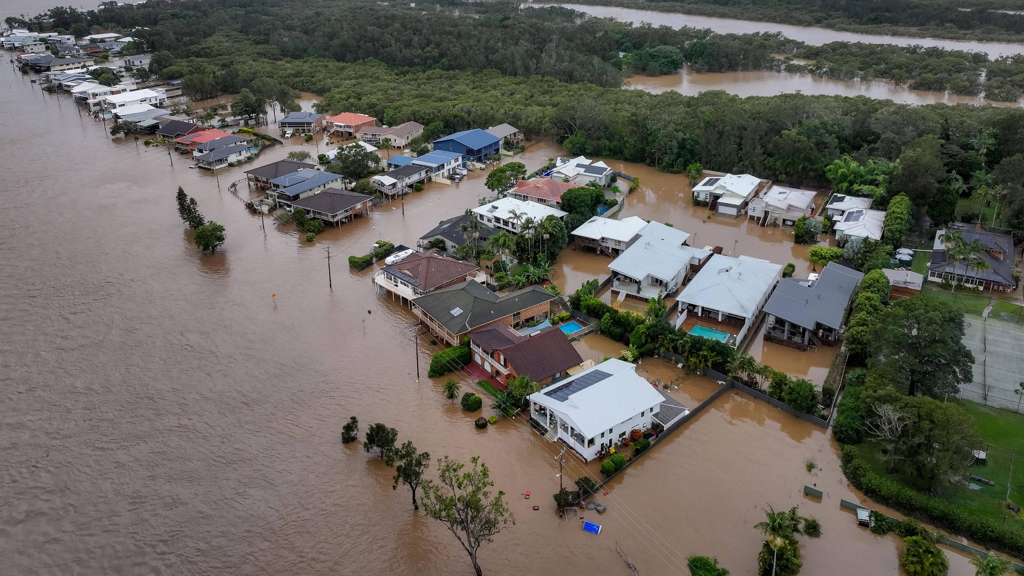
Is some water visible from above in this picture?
Yes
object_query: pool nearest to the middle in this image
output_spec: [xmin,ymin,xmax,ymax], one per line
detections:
[557,320,585,334]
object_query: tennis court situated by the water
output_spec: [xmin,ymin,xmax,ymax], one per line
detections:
[849,294,1024,424]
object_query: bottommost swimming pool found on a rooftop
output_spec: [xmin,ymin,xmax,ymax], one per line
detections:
[688,326,730,343]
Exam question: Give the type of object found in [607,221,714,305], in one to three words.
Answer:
house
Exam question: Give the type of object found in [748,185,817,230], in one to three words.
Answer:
house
